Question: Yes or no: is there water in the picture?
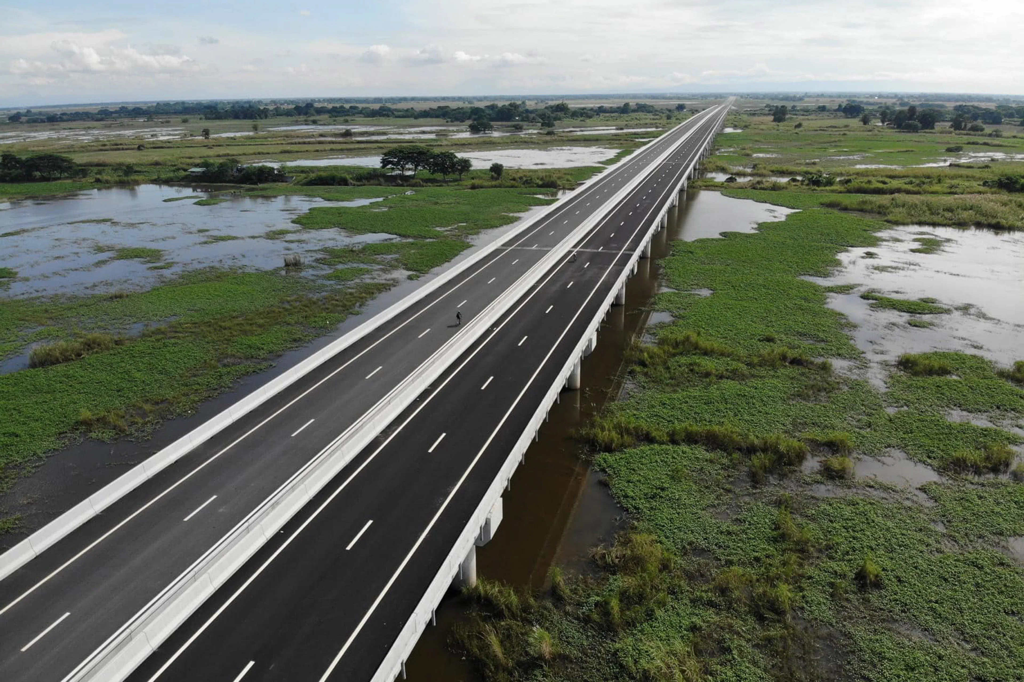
Yes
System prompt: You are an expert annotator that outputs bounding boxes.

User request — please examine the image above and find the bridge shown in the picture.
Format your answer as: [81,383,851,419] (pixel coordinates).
[0,111,725,682]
